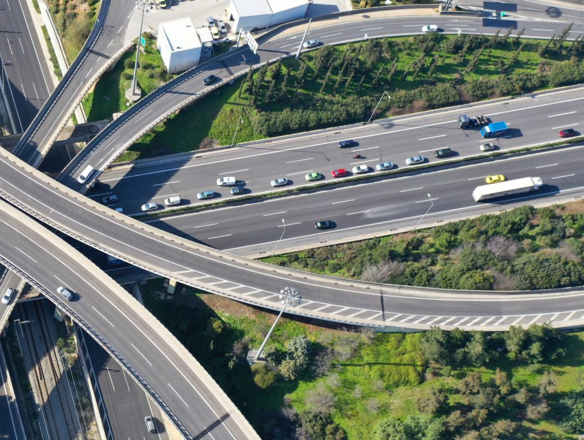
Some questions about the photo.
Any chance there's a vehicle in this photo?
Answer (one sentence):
Yes, a vehicle is visible in the scene.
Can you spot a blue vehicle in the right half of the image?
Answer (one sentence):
Yes, there is a blue vehicle in the right half of the image.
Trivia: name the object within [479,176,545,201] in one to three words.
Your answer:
truck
